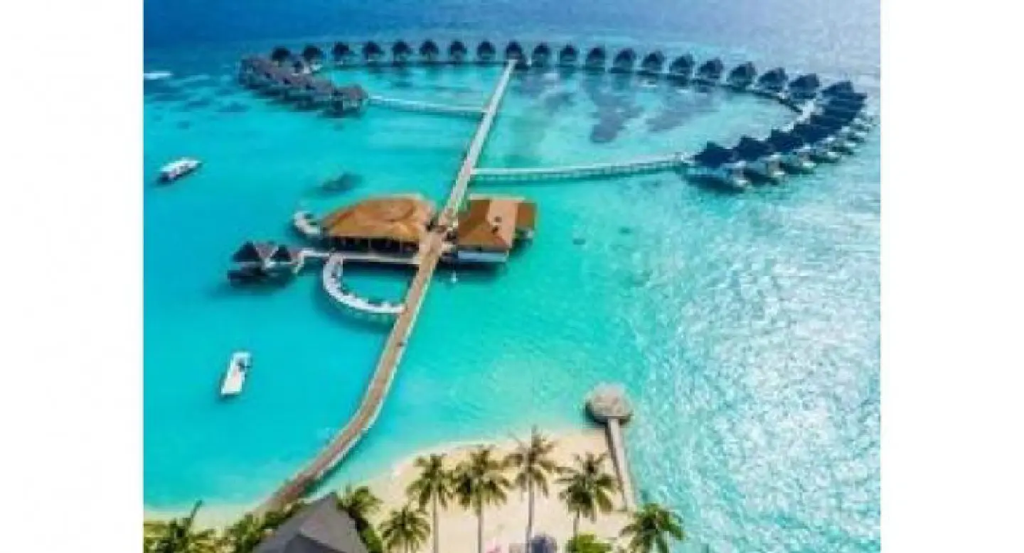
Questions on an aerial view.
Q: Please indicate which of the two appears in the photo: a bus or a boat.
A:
boat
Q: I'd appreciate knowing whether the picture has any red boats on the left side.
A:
No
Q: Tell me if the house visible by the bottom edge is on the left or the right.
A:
left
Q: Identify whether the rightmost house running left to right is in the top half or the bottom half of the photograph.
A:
top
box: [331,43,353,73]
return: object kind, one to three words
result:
house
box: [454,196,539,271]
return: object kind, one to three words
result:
building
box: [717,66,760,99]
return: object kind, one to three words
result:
house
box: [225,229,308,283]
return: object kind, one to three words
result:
shed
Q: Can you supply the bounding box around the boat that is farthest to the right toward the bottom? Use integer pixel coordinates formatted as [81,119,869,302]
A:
[221,351,255,401]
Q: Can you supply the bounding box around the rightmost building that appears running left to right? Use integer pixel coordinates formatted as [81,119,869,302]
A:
[810,84,879,122]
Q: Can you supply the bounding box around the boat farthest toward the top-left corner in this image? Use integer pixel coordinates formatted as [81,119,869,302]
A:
[159,158,202,181]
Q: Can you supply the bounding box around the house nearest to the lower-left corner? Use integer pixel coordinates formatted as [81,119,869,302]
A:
[258,490,371,553]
